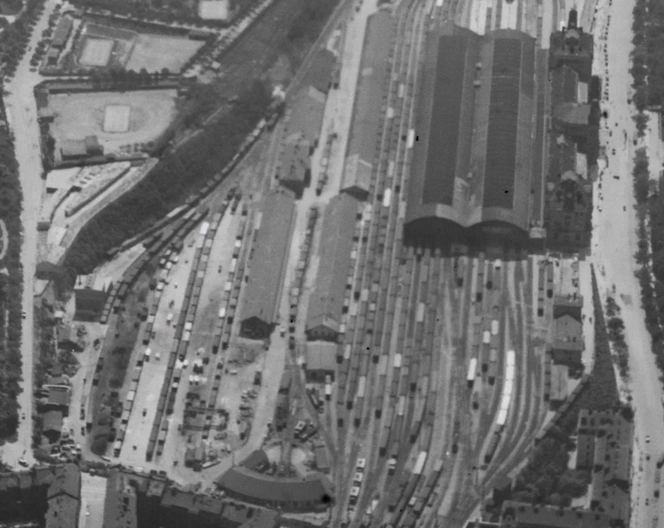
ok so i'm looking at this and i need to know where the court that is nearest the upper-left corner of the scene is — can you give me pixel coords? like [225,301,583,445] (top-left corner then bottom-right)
[79,40,113,67]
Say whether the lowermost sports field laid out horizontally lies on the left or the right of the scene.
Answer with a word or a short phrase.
left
